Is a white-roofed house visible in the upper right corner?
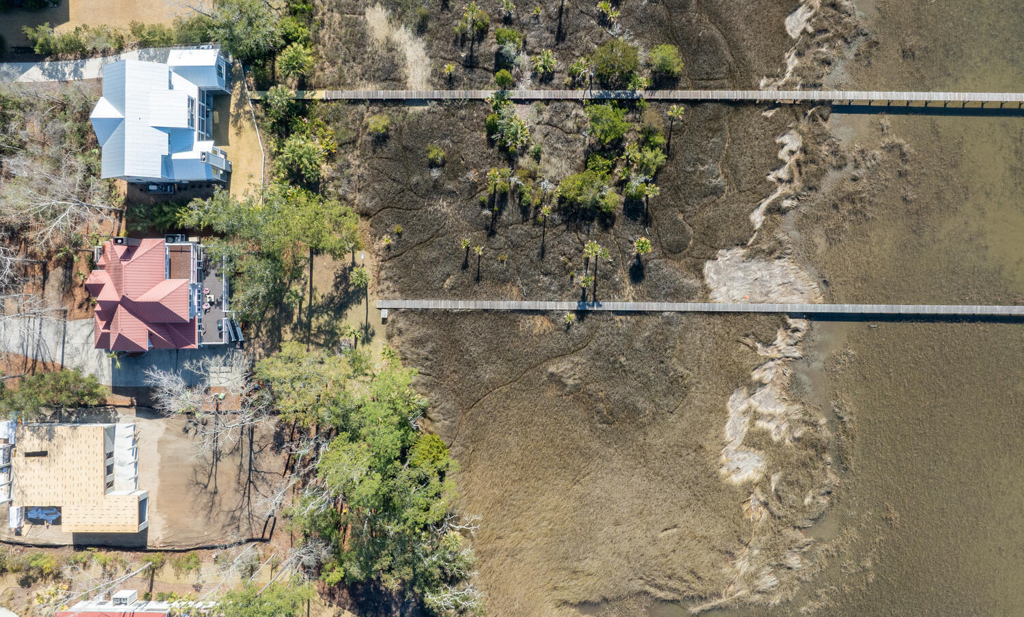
No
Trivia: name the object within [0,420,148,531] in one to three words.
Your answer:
house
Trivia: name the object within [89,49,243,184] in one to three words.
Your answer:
house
